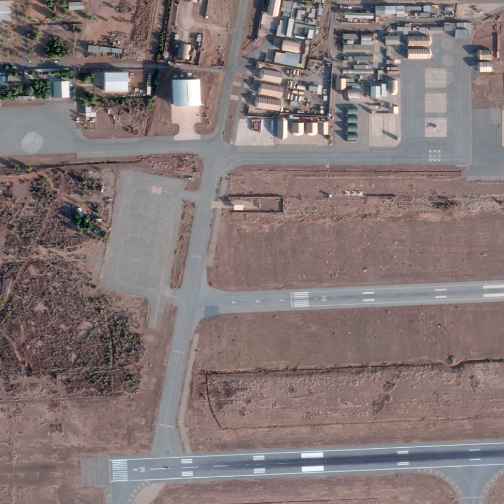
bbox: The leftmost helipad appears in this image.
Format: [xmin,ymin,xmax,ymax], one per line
[22,131,43,153]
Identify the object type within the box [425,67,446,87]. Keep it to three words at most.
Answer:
helipad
